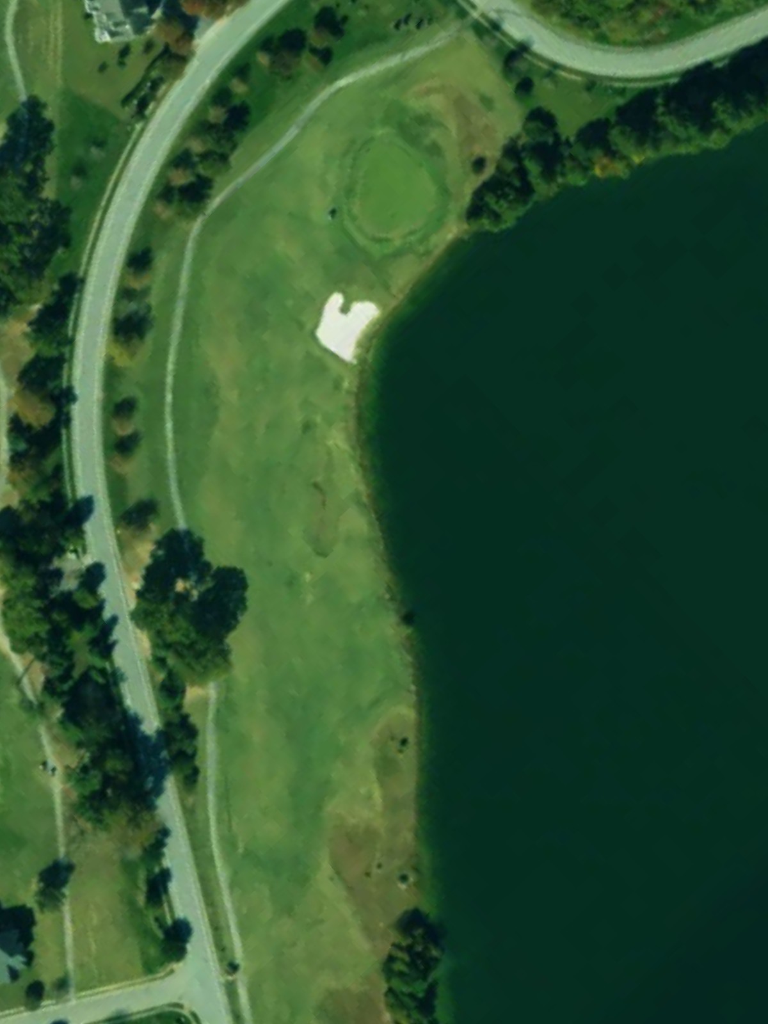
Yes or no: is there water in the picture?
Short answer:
Yes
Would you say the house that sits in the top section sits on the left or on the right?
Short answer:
left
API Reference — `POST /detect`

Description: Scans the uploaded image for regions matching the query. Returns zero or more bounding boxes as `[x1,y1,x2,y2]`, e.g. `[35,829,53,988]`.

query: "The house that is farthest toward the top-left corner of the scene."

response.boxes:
[86,0,150,42]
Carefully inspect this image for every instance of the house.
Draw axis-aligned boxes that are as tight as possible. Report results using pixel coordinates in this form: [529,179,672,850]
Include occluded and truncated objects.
[0,946,26,986]
[86,0,150,42]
